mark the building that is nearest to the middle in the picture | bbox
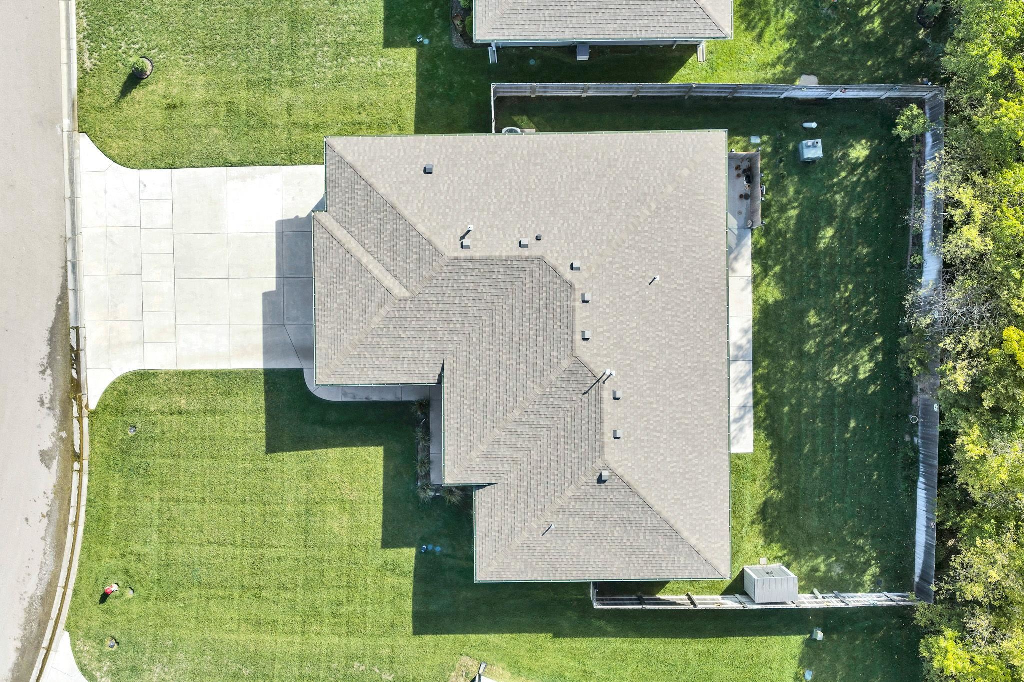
[311,130,731,584]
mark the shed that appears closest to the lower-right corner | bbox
[744,560,799,602]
